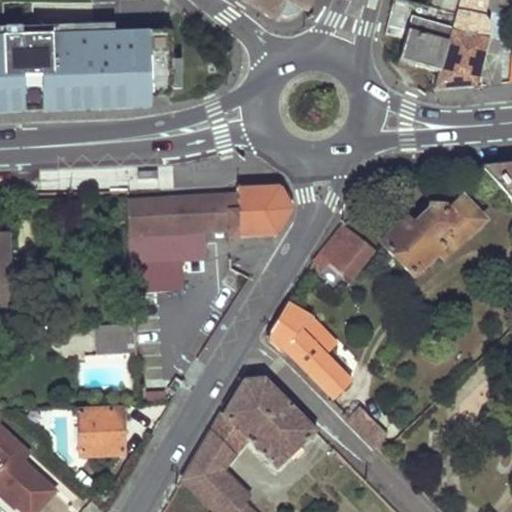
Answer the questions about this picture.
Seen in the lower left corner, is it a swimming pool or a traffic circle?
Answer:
swimming pool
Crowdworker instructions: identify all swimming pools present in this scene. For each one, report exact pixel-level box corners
[82,364,128,390]
[53,416,70,462]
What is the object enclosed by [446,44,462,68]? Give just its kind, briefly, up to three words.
solar panel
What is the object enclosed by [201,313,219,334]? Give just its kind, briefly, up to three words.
car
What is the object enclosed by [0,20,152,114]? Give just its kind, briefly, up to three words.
building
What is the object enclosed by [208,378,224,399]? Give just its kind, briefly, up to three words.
car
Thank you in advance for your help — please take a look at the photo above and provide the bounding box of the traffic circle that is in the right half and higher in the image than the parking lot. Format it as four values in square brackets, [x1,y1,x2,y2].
[238,31,390,187]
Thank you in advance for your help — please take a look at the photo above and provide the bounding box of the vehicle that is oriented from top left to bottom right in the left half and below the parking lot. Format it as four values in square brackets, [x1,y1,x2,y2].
[130,408,151,428]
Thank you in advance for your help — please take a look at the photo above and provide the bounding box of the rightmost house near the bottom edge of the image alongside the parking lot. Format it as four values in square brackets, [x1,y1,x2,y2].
[182,376,318,512]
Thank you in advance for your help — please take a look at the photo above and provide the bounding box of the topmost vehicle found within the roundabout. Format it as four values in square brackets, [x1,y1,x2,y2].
[278,63,298,75]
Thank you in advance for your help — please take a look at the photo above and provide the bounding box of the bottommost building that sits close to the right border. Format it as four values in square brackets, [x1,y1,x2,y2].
[388,192,492,279]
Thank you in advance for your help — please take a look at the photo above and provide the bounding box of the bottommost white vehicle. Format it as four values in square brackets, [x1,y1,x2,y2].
[168,442,186,465]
